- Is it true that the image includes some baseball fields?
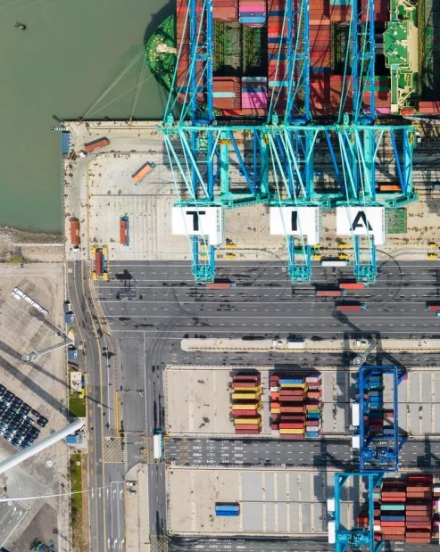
No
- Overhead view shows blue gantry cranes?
Yes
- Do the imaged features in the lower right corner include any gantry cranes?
Yes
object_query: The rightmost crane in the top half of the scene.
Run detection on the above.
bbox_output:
[332,0,421,281]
